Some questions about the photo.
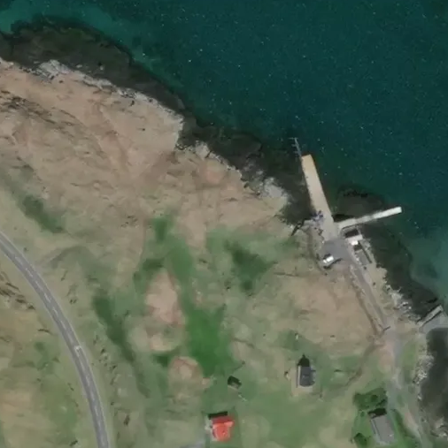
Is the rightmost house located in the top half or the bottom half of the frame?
bottom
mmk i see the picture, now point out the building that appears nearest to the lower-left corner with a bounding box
[211,414,234,442]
